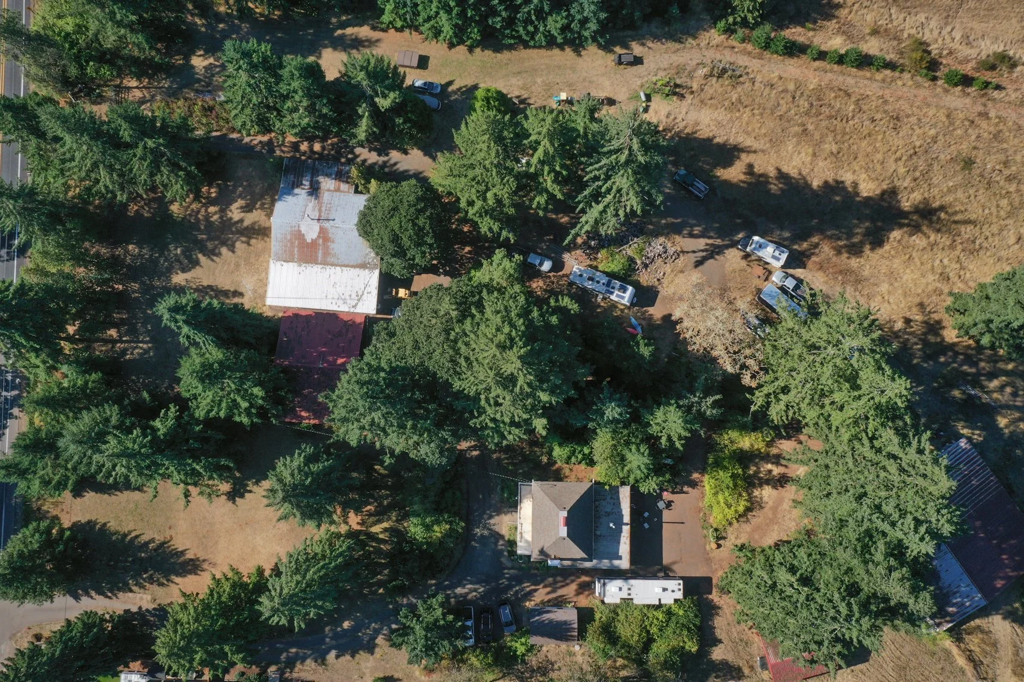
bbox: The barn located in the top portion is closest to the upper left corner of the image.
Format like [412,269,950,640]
[265,158,385,314]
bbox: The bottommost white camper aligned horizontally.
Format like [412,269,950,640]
[593,565,684,603]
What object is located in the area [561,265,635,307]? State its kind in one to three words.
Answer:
trailer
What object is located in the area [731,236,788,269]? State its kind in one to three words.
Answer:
van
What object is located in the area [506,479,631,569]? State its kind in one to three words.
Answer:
house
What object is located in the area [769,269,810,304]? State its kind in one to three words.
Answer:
truck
